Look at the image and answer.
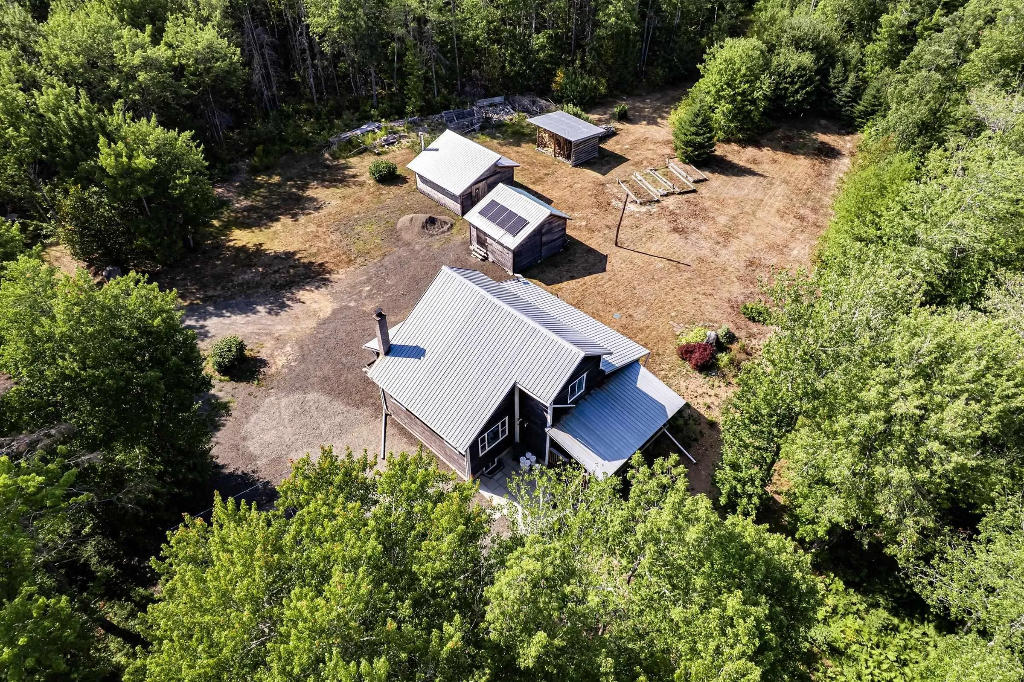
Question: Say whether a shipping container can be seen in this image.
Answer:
No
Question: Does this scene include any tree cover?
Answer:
Yes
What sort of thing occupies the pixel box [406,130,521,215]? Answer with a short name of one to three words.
shed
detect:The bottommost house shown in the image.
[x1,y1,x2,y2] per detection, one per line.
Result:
[364,265,697,498]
